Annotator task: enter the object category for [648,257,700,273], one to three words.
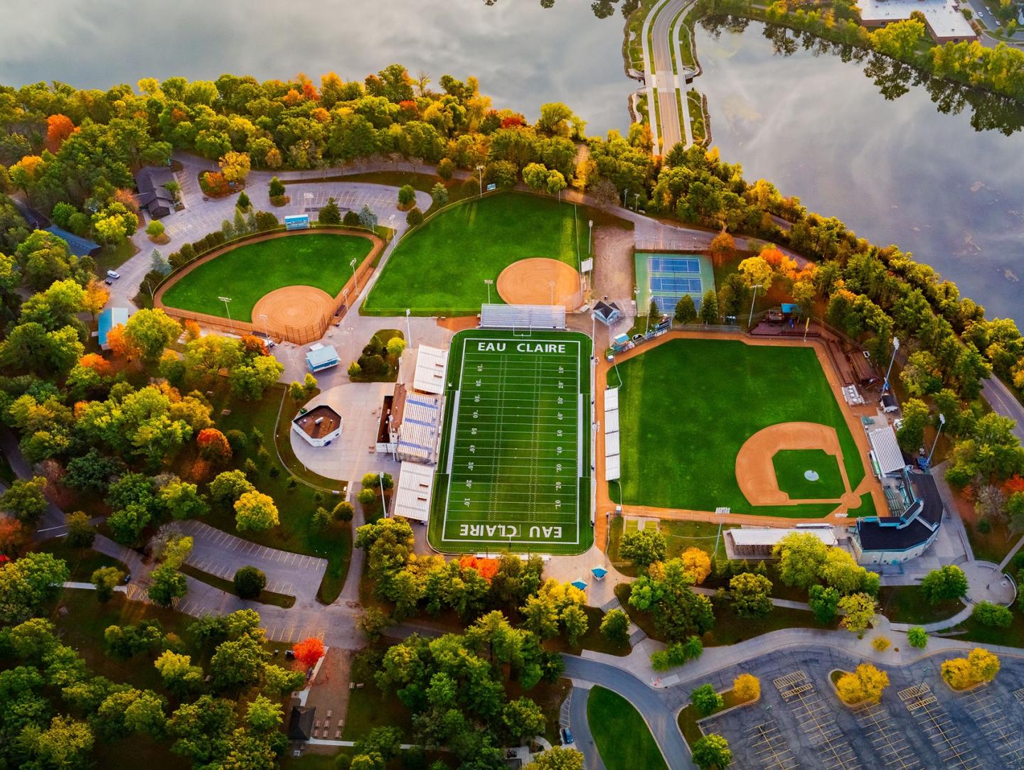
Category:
tennis court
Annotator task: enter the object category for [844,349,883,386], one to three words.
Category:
barn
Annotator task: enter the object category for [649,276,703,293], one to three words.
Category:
tennis court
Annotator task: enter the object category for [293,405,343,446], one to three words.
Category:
building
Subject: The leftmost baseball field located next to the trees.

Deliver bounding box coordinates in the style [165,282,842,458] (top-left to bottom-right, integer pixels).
[155,227,385,346]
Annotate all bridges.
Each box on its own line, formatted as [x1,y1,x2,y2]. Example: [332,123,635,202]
[640,68,692,94]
